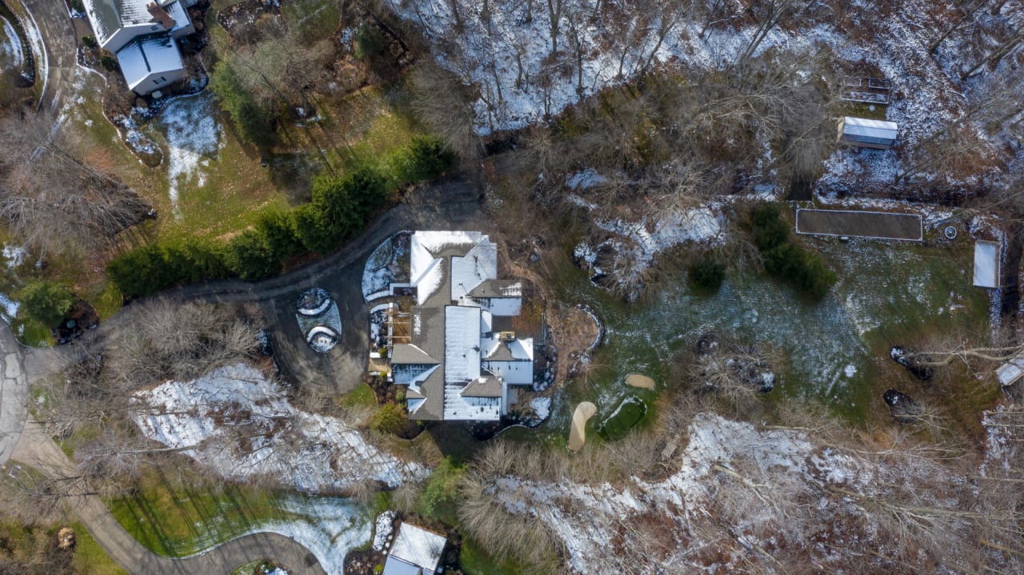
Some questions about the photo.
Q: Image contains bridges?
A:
No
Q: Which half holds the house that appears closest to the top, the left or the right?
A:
left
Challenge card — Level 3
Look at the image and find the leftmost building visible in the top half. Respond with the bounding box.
[81,0,197,92]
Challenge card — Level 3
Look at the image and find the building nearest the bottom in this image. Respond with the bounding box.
[383,514,448,575]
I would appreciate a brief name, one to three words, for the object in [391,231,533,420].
house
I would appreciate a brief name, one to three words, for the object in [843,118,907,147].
shed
